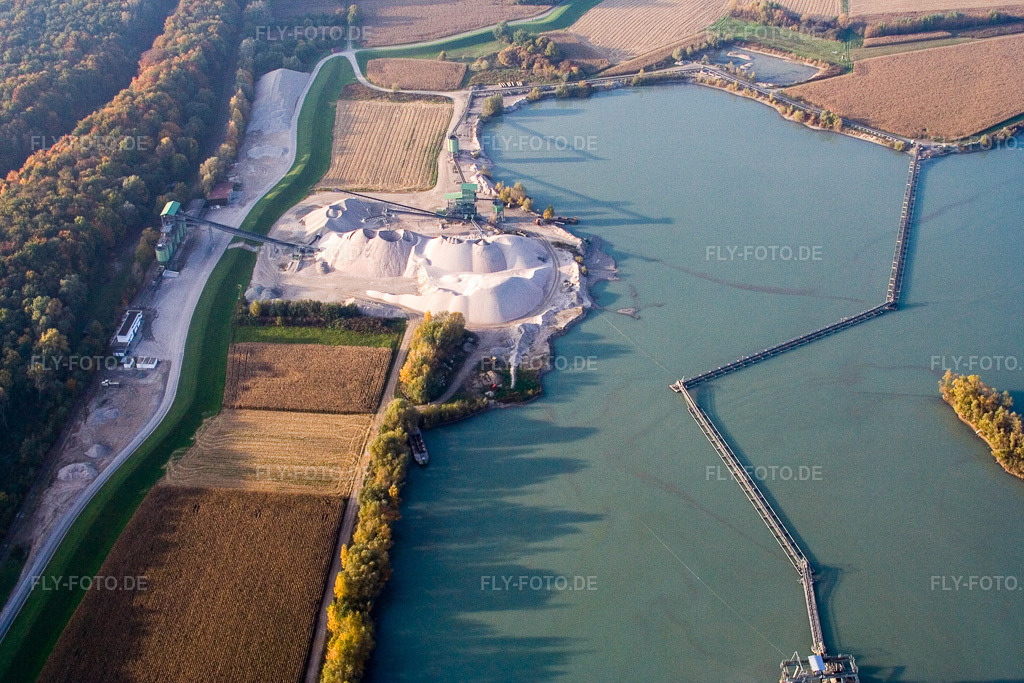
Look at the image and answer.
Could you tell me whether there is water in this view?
Yes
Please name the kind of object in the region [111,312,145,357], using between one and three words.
building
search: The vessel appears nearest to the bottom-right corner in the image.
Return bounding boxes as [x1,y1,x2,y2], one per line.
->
[778,642,866,683]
